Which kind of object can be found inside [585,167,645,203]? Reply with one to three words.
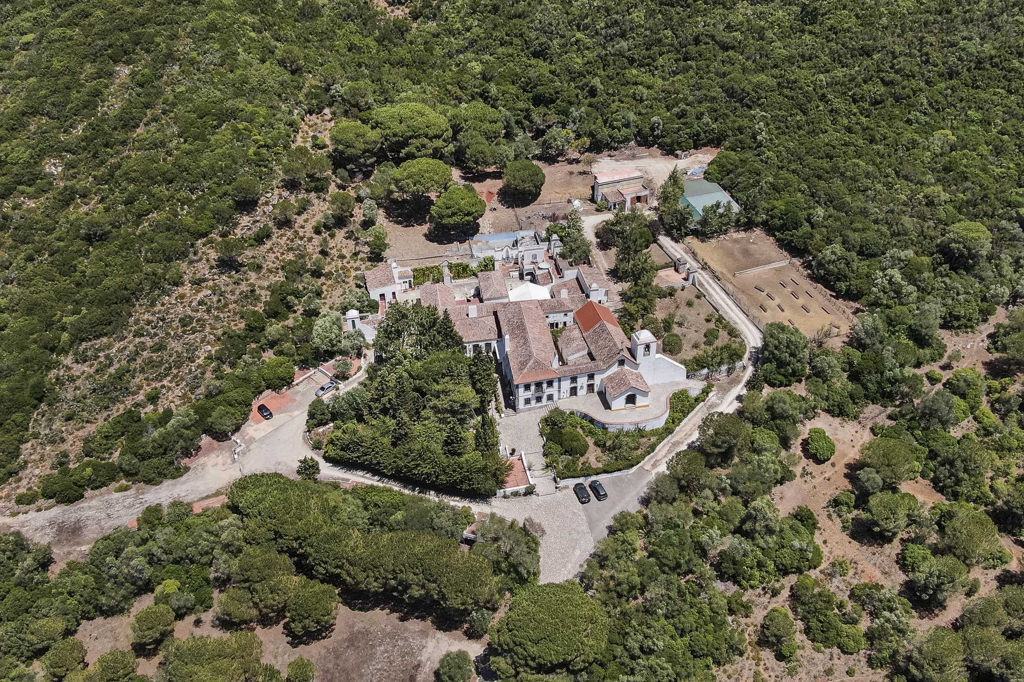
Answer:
barn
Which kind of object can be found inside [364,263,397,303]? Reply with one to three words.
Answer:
house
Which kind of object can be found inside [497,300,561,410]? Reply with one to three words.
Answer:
house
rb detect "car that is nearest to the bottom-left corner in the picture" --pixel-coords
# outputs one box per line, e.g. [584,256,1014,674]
[257,402,272,417]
